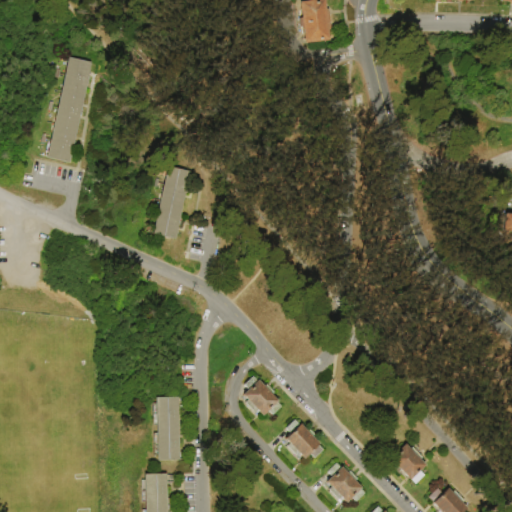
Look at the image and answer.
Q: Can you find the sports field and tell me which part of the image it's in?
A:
bottom left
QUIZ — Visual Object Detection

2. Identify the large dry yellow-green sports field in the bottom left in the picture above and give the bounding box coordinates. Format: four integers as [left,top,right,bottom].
[0,310,99,512]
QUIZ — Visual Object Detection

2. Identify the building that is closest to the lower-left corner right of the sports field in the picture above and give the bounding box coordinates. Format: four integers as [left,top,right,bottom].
[142,474,173,512]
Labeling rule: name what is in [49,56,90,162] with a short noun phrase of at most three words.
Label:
building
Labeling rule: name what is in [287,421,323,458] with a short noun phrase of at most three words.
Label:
house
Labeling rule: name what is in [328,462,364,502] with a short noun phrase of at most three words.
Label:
house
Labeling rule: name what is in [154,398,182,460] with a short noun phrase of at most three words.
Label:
building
